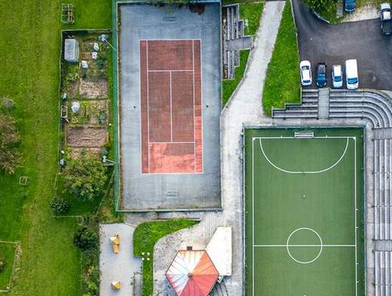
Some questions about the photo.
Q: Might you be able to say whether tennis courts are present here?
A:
Yes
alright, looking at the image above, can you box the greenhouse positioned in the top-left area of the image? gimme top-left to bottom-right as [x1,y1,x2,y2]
[64,37,78,62]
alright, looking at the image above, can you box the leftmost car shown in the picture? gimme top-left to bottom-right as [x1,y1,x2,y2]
[299,60,312,85]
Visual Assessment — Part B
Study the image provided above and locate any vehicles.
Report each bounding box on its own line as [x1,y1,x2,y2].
[299,60,312,85]
[316,63,328,85]
[346,58,360,88]
[381,2,392,35]
[344,0,357,11]
[332,63,345,86]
